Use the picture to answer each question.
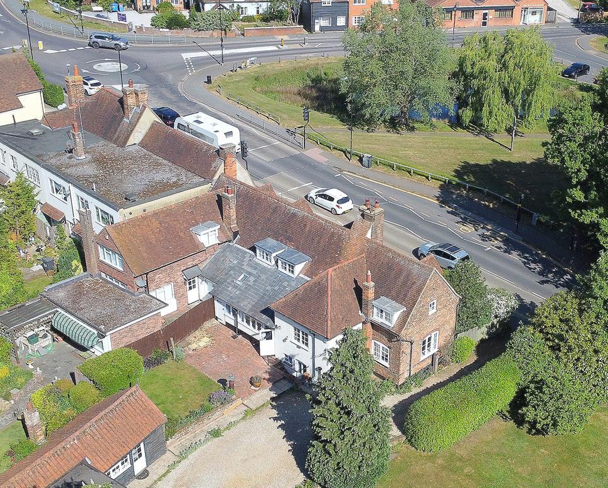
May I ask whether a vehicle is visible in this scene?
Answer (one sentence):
Yes, there's a vehicle down there.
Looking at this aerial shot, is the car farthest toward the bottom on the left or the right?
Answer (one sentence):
You can find the car farthest toward the bottom on the right side of the picture.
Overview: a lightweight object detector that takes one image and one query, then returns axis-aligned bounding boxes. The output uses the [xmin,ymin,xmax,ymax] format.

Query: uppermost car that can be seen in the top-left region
[87,29,132,49]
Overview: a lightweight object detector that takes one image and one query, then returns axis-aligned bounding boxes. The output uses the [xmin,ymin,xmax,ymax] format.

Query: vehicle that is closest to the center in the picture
[303,188,358,214]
